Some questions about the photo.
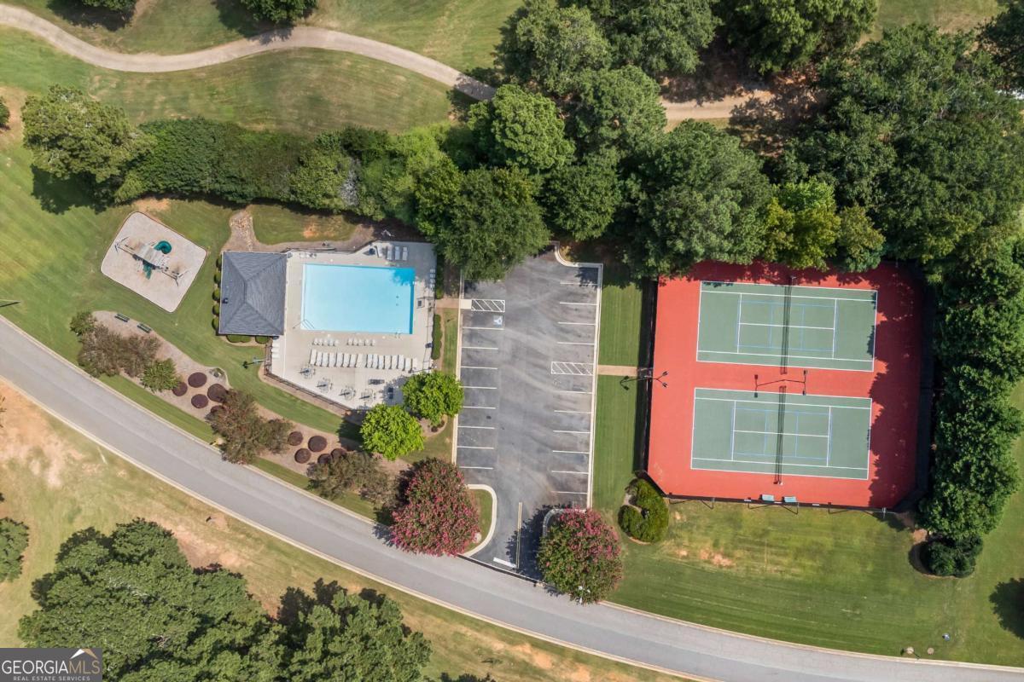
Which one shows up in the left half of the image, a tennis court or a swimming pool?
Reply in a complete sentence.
It is a swimming pool that can be seen in the left half of the image.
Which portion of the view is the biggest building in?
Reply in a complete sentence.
The biggest building is in the left part of the image.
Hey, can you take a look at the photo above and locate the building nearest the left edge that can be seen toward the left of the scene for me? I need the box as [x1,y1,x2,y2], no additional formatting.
[218,250,294,336]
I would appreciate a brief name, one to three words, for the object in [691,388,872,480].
tennis court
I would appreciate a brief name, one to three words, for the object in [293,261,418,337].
swimming pool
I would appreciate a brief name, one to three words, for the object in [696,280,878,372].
tennis court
